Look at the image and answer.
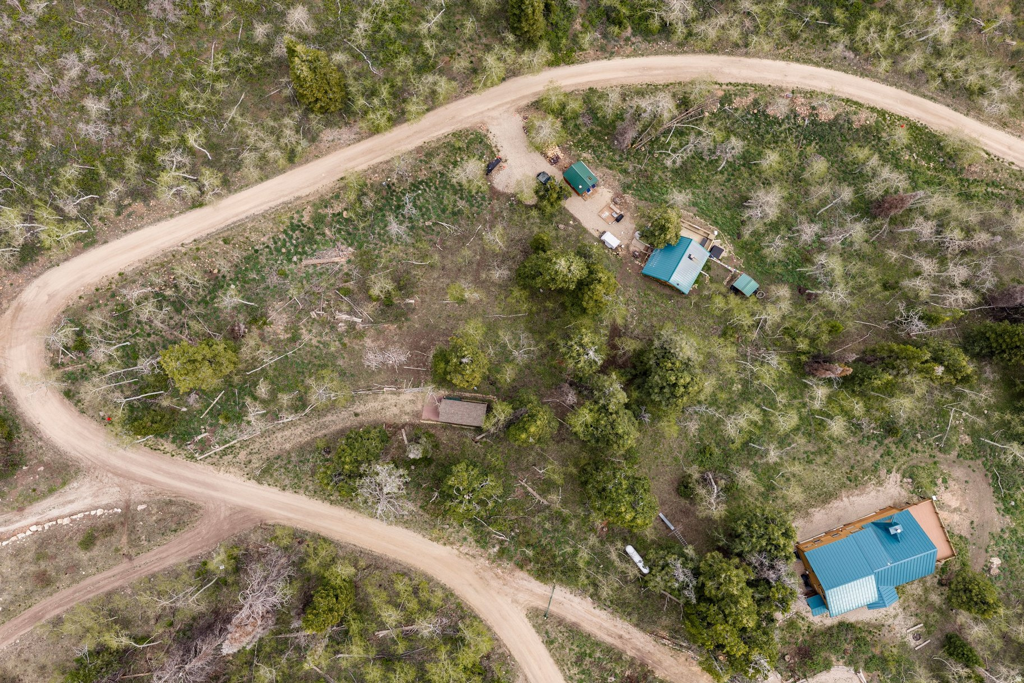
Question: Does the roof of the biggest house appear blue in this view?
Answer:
Yes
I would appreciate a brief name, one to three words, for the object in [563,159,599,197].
building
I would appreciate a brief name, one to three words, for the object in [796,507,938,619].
house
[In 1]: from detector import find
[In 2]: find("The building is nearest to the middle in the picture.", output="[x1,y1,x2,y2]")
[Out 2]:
[439,398,488,427]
